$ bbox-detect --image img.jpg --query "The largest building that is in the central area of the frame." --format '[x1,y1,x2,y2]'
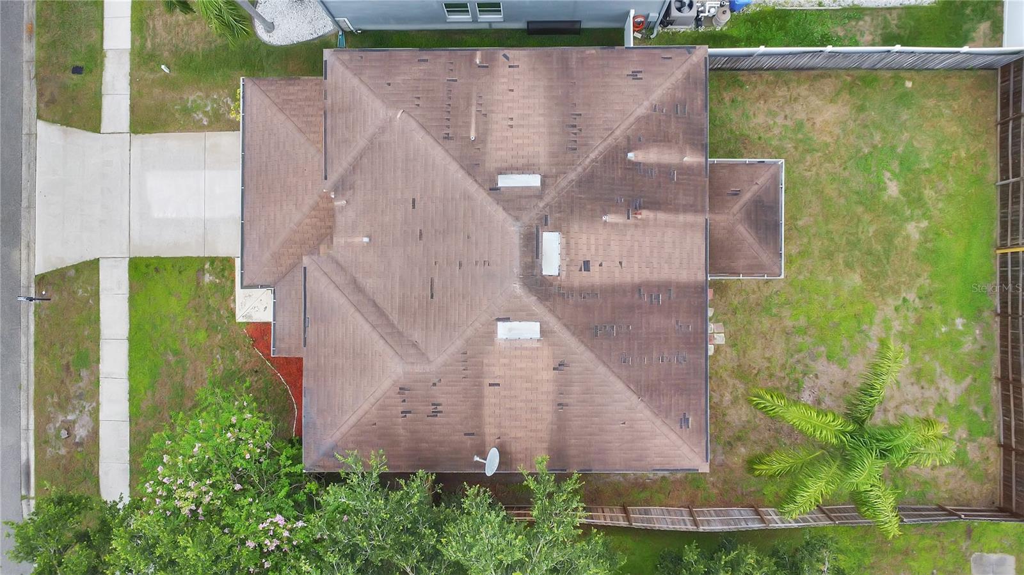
[240,47,784,473]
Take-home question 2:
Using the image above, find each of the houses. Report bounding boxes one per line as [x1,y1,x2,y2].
[319,0,677,39]
[240,47,784,473]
